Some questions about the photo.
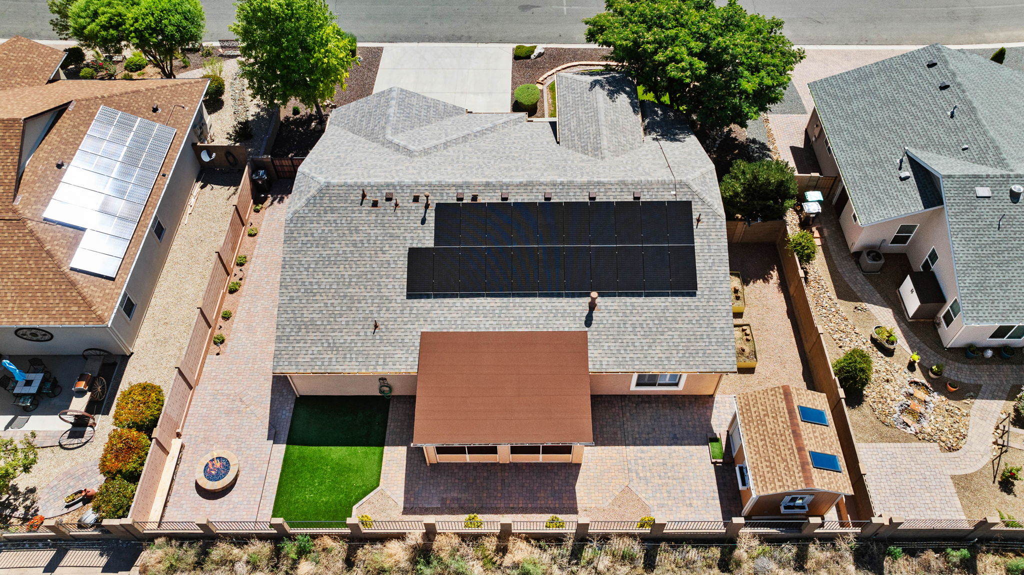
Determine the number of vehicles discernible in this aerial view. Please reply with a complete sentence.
The photo contains no vehicles.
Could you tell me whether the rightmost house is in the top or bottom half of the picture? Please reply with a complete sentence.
The rightmost house sits in the top half of the picture.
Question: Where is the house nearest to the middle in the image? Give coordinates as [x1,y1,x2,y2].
[273,72,737,466]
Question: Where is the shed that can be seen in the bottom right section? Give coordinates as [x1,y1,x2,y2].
[725,386,855,517]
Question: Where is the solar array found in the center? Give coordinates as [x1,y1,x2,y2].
[406,202,695,301]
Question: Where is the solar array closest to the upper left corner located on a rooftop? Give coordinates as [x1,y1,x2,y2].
[39,108,177,277]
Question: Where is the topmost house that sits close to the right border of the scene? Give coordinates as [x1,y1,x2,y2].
[803,45,1024,350]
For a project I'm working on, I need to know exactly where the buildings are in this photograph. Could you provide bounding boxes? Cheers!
[273,72,737,466]
[725,386,855,517]
[803,45,1024,350]
[0,36,223,356]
